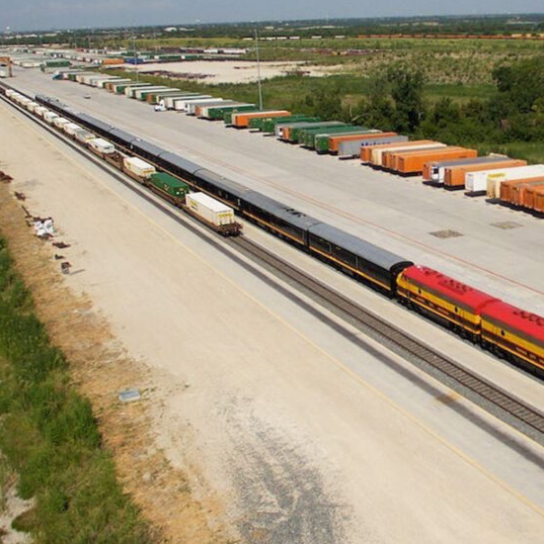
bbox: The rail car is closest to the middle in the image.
[187,200,247,239]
